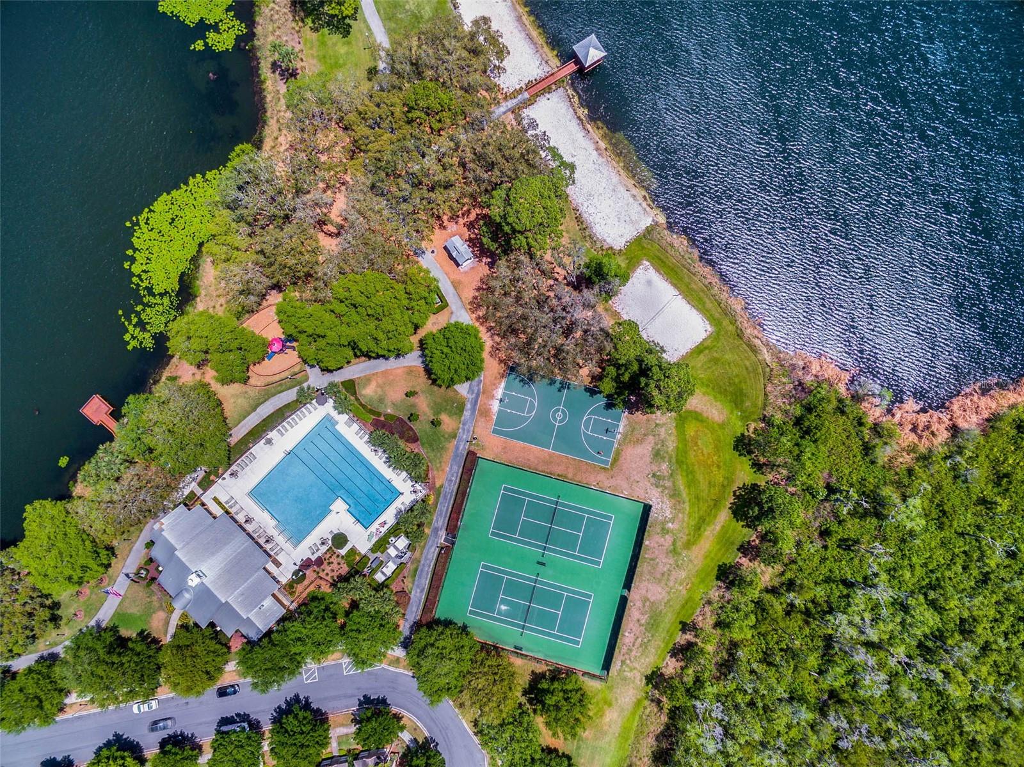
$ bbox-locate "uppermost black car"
[218,683,240,698]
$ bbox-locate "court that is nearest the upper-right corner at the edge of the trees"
[614,265,709,359]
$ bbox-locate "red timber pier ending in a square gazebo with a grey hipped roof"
[526,35,606,96]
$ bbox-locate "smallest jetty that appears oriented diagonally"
[78,394,128,437]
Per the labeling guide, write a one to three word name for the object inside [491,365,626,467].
basketball court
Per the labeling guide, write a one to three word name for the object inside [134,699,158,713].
car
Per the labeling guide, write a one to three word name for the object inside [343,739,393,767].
house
